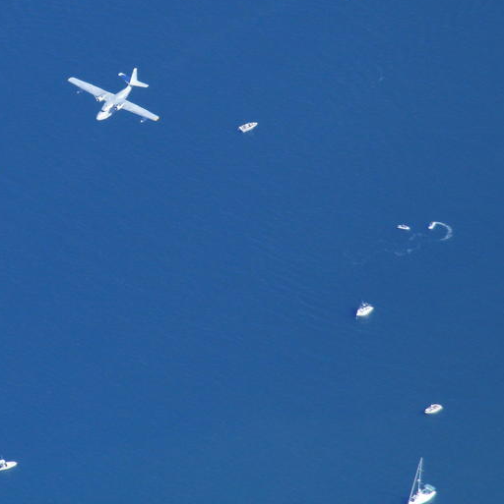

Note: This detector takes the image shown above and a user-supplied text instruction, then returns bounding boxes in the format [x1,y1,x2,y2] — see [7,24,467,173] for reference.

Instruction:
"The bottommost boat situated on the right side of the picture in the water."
[407,458,437,504]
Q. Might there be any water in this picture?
Yes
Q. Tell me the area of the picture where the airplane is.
top left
